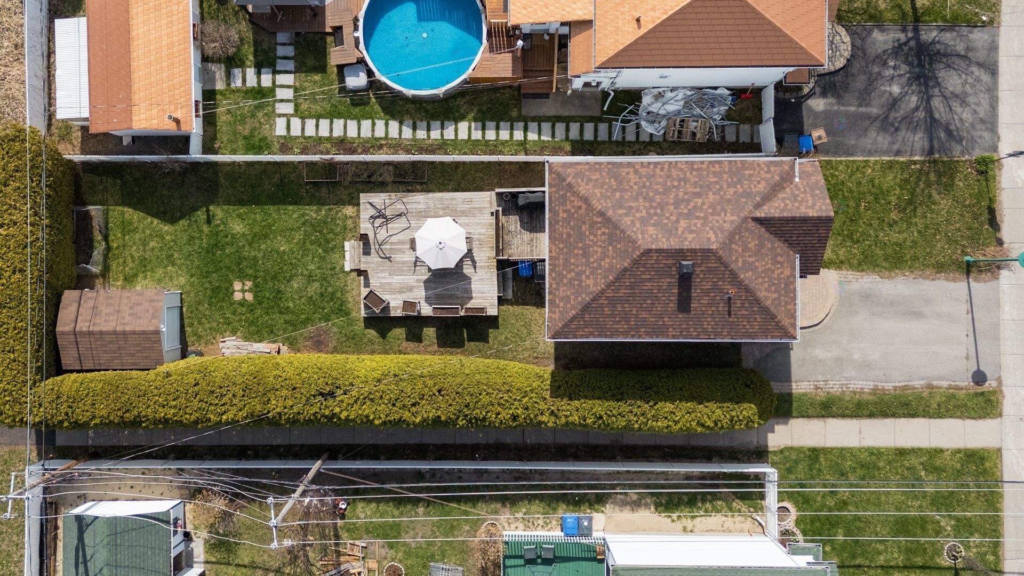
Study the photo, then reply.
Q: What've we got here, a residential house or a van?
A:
residential house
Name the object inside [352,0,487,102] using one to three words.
swimming pool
